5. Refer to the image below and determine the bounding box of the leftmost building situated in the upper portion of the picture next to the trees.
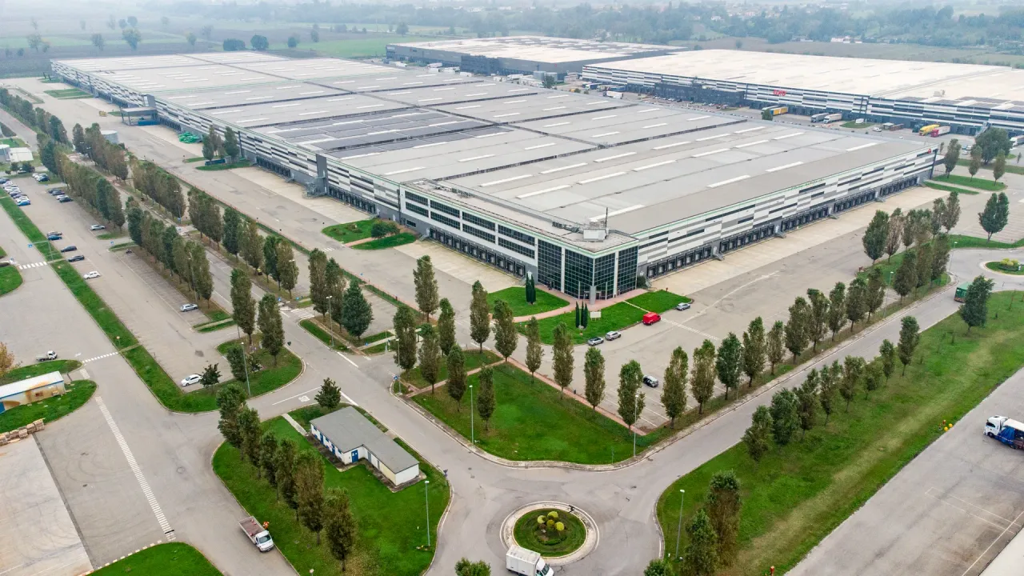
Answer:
[9,148,35,173]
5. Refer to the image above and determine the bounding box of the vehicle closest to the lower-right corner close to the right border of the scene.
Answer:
[982,421,1024,447]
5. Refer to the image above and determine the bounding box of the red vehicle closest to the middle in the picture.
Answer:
[641,311,663,324]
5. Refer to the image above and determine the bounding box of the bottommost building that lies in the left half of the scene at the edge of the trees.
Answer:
[306,408,418,487]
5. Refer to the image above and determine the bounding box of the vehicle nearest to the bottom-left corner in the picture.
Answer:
[33,346,59,360]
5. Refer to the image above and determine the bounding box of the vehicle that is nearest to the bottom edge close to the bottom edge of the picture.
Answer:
[507,541,554,576]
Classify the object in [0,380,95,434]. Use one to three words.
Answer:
shed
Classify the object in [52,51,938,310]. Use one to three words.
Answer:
warehouse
